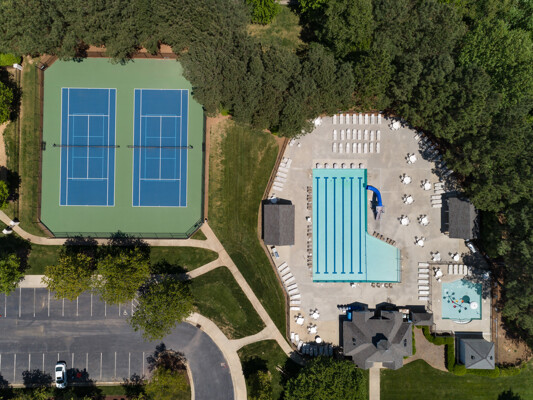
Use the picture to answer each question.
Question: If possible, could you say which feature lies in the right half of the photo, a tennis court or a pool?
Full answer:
There is a pool in the right half of the photo.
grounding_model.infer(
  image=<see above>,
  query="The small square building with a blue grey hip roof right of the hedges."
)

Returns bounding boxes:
[460,336,496,370]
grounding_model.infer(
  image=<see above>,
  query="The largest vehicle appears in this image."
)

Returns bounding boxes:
[52,363,66,389]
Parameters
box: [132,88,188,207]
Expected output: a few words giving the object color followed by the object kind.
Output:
blue tennis court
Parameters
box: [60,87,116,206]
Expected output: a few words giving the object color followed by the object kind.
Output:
blue tennis court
